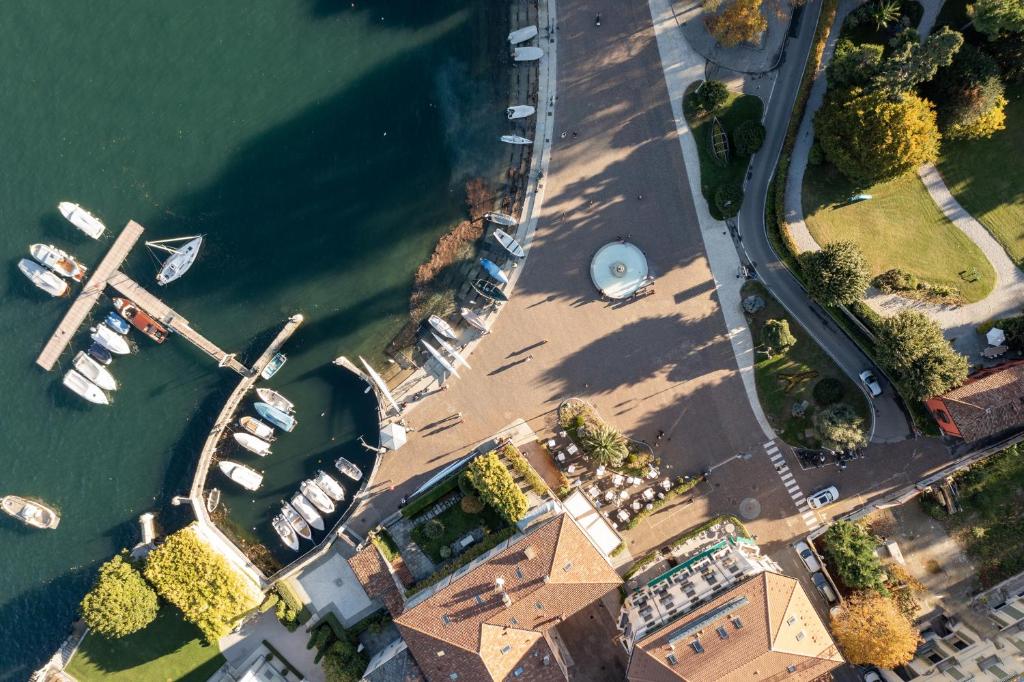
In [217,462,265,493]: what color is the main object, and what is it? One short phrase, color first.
white boat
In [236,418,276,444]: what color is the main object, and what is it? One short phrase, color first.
white boat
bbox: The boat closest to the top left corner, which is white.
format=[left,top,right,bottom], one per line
[56,204,106,240]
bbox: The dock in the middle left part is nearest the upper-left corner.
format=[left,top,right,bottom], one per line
[36,221,251,378]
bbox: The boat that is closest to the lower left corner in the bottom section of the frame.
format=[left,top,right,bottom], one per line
[0,498,62,532]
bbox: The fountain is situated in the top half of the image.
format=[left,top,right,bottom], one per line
[589,240,649,300]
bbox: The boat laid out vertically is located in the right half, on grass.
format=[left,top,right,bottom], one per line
[712,115,729,164]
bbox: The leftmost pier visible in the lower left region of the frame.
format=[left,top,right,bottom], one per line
[141,509,159,540]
